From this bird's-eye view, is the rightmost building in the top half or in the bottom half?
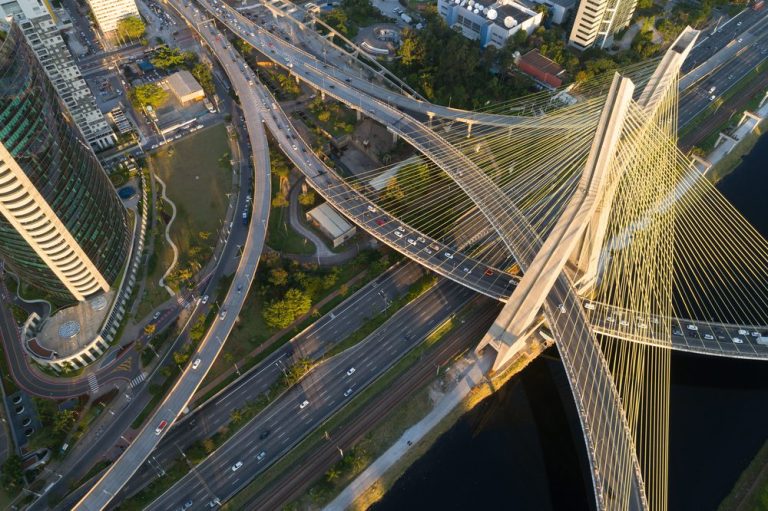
top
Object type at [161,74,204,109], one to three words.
building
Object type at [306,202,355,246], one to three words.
building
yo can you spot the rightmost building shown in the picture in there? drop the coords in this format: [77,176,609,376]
[570,0,628,53]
